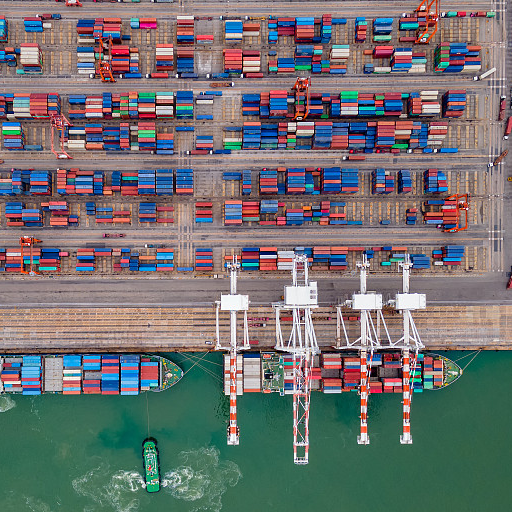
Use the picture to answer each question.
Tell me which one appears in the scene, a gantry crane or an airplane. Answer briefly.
gantry crane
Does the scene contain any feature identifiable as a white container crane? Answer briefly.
Yes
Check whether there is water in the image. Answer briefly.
Yes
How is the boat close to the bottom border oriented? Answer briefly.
up and down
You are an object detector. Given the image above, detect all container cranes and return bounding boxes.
[410,0,438,45]
[288,78,309,123]
[20,237,42,276]
[439,194,467,234]
[98,35,116,83]
[331,249,382,446]
[270,249,321,466]
[209,249,250,447]
[371,249,428,446]
[51,116,71,159]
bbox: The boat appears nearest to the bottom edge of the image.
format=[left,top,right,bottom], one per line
[141,437,161,493]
